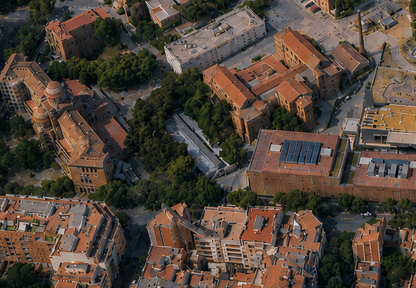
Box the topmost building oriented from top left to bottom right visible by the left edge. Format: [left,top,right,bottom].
[0,50,114,195]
